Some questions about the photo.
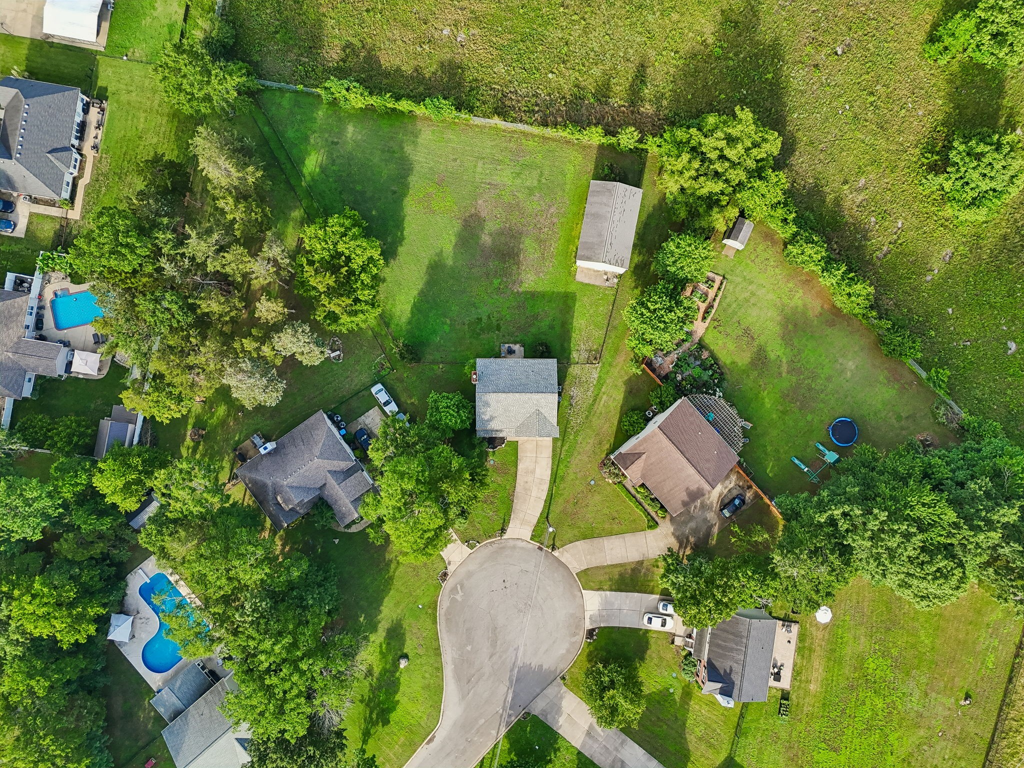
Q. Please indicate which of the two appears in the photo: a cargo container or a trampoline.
trampoline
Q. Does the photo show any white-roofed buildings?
Yes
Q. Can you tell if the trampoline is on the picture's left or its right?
right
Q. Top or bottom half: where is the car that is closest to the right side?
bottom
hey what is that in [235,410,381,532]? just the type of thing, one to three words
house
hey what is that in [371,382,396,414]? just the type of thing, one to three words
car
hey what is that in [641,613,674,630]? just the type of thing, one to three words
car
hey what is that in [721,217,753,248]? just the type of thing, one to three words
shed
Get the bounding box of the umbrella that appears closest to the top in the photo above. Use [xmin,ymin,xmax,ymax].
[71,350,107,376]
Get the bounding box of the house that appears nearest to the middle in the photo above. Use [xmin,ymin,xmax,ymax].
[471,358,559,437]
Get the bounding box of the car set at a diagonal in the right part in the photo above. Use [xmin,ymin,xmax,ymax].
[718,491,746,521]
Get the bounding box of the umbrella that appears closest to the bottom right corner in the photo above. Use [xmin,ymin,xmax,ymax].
[815,606,832,623]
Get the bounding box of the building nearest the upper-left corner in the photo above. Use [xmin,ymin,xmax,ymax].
[42,0,115,54]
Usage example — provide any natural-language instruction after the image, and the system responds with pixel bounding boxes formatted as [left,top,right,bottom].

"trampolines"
[823,418,858,446]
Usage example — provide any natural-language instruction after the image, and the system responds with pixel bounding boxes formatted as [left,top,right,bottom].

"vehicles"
[653,599,685,617]
[0,217,18,233]
[0,198,19,214]
[354,427,374,458]
[718,491,746,521]
[641,613,674,630]
[371,382,396,414]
